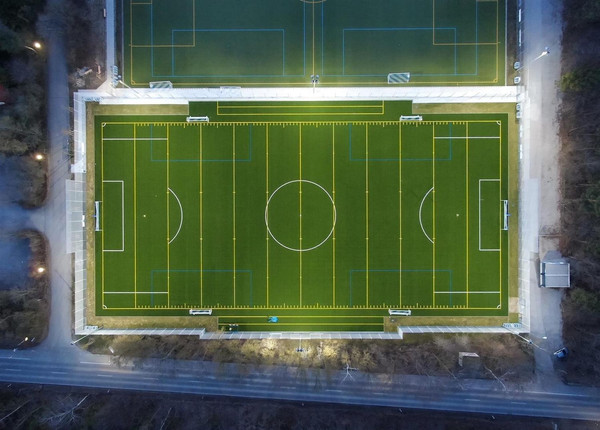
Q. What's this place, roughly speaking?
sports ground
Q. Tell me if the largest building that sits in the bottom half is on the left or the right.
right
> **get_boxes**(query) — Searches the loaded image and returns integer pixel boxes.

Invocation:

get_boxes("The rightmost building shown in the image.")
[534,262,570,287]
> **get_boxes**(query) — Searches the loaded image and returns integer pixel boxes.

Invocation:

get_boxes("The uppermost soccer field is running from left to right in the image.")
[122,0,506,87]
